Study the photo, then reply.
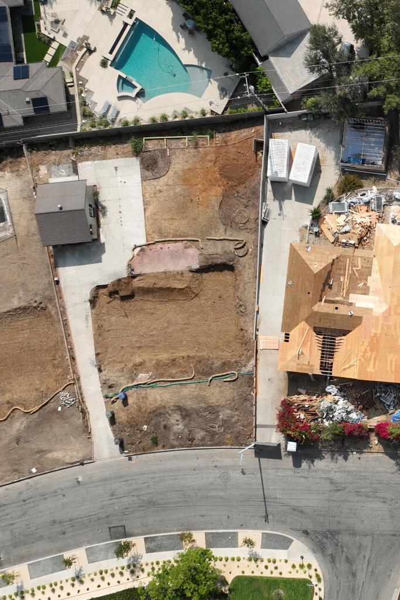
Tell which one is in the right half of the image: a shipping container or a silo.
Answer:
shipping container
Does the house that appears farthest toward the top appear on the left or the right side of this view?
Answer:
right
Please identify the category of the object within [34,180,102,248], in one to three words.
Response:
building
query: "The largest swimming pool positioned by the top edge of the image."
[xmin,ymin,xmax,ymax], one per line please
[108,16,213,105]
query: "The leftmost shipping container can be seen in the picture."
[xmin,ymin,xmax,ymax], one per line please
[267,138,293,185]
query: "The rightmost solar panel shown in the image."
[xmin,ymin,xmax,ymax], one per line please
[31,97,49,113]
